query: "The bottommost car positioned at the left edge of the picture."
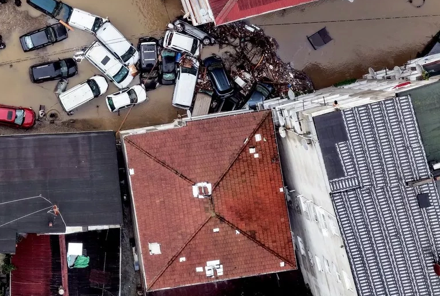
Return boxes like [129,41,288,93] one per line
[0,102,36,131]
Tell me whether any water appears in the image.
Yes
